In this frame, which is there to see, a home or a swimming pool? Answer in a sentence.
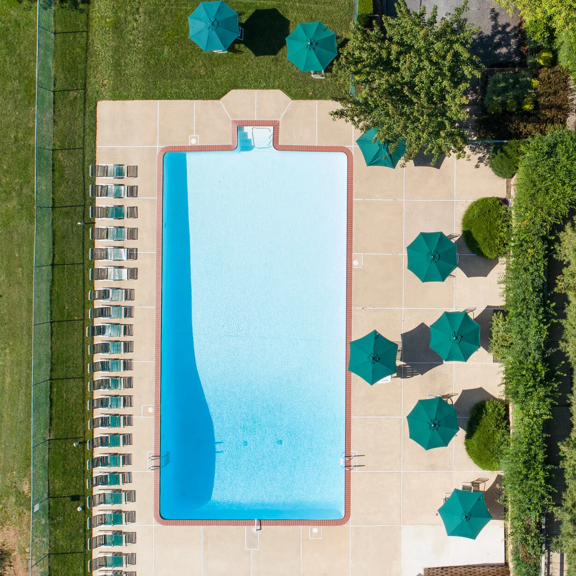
This aerial view contains a swimming pool.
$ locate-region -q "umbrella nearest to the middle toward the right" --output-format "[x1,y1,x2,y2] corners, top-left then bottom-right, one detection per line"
[350,329,398,384]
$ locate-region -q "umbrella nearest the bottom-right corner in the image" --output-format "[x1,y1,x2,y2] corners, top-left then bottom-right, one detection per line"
[437,486,492,539]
